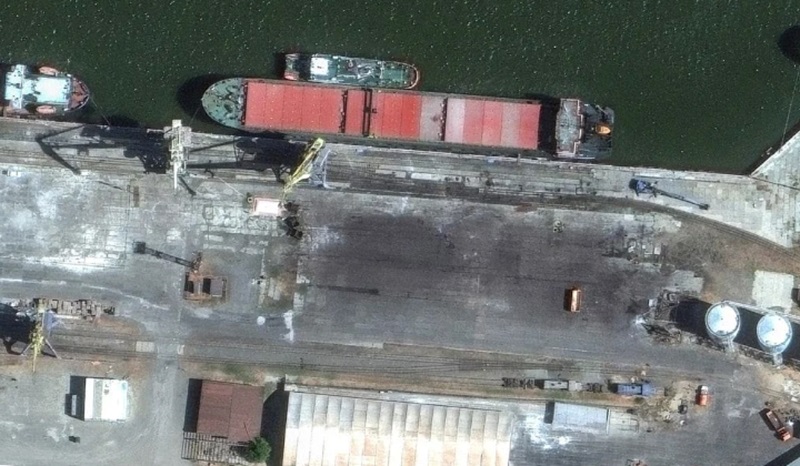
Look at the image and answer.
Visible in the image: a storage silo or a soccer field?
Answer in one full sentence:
The one in the frame is a storage silo.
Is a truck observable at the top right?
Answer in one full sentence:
No, looking at the top right, there is no truck.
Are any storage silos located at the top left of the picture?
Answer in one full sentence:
No, no storage silo can be made out at the top left of the picture.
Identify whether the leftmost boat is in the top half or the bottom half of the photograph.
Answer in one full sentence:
It is in the top half that the leftmost boat appears.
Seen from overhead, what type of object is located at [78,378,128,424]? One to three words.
building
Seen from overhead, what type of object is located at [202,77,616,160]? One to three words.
ship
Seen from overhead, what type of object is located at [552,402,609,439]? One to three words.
building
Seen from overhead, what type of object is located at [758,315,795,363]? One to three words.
silo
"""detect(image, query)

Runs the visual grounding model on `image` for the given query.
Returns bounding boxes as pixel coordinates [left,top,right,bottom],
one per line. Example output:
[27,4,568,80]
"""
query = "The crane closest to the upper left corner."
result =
[159,113,201,194]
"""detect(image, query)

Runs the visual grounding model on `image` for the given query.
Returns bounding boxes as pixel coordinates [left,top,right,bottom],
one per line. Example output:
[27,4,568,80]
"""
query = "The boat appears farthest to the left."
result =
[0,67,90,115]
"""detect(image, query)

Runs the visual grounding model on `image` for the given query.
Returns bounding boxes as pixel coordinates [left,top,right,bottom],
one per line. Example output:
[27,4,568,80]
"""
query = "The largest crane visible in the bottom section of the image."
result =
[17,301,66,383]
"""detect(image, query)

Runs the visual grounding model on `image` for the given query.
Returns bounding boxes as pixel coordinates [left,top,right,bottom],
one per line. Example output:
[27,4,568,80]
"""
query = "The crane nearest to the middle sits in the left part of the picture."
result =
[281,132,334,205]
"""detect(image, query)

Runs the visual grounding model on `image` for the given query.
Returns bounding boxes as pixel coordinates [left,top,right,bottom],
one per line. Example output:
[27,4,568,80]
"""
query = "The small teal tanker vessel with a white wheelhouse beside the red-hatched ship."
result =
[284,52,421,88]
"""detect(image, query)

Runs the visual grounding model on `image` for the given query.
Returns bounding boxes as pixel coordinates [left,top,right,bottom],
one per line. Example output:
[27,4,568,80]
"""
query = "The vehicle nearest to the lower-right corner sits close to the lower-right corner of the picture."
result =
[766,409,793,442]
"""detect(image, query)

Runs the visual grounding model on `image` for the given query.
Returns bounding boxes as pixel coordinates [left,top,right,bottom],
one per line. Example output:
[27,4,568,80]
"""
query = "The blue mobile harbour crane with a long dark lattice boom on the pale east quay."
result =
[629,174,711,210]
